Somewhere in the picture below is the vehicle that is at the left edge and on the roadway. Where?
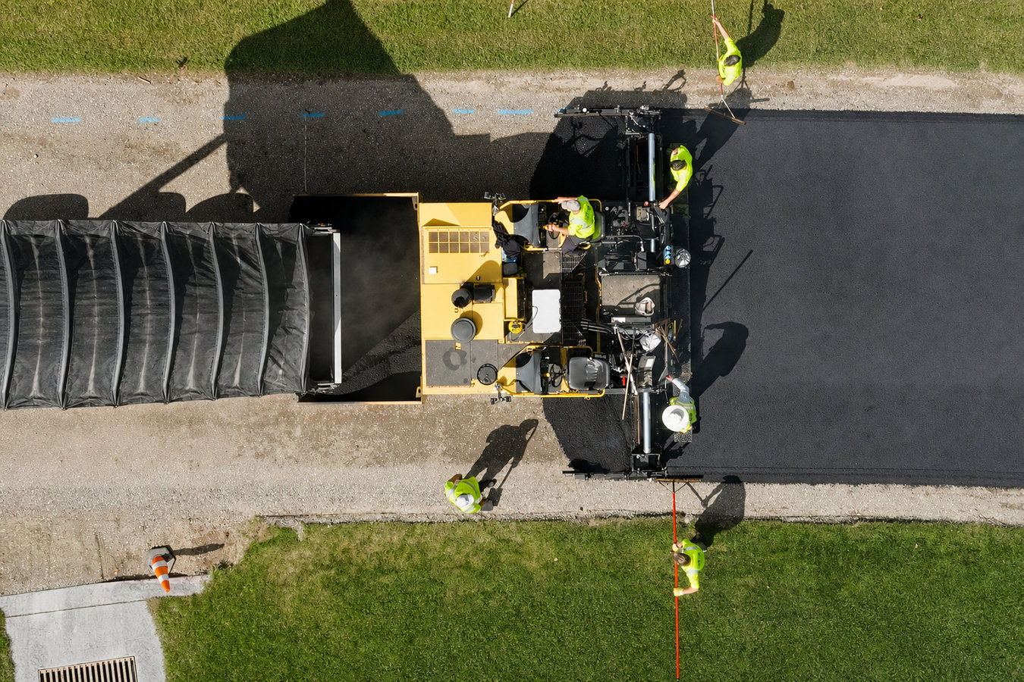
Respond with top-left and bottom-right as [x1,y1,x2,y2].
[0,220,349,414]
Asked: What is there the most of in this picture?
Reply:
paved ground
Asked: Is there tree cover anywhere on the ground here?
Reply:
No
